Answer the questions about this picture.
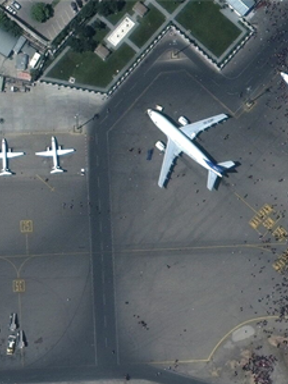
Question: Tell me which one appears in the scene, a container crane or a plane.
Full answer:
There is a plane in the scene.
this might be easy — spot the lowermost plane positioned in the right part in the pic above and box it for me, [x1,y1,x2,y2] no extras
[147,109,236,191]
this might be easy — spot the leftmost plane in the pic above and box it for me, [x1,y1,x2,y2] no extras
[0,139,25,175]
